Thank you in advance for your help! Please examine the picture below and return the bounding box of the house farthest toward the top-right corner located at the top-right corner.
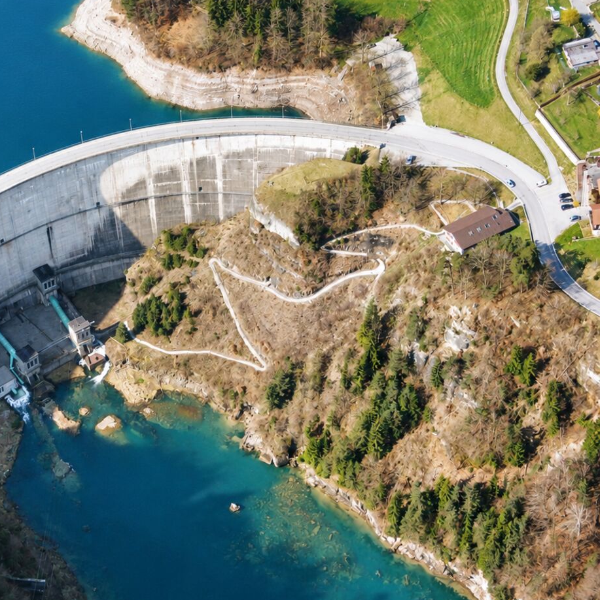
[559,35,600,79]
